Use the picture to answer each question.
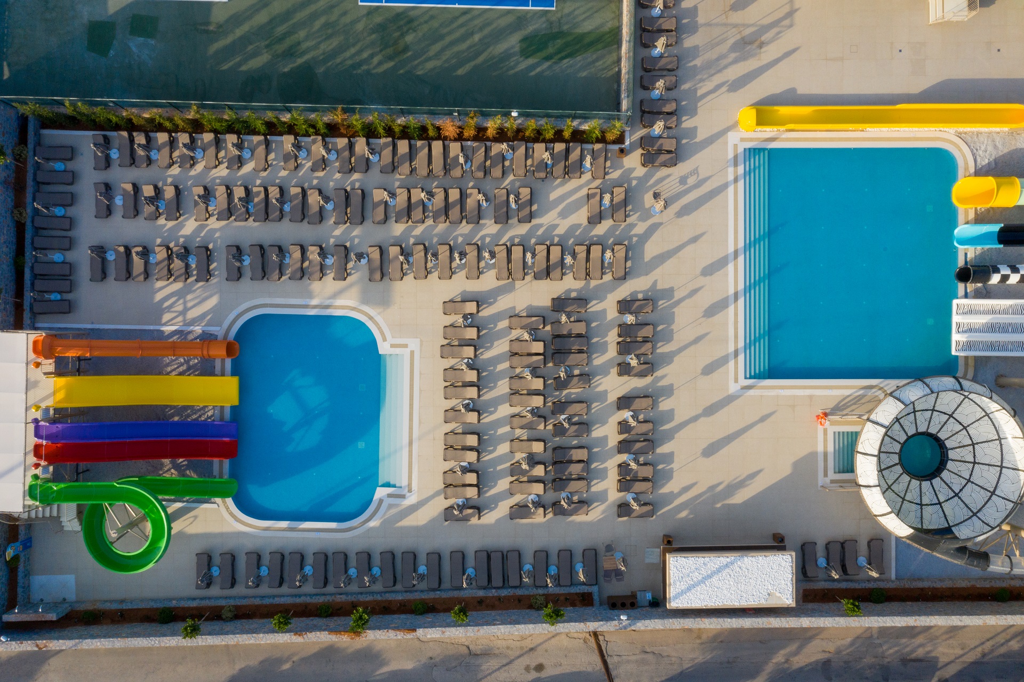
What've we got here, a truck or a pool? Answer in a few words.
pool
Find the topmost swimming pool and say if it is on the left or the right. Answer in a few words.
right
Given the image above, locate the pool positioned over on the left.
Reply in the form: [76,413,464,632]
[213,299,419,537]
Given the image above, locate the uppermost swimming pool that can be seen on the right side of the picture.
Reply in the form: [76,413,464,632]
[729,133,974,394]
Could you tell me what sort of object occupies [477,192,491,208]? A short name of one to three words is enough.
umbrella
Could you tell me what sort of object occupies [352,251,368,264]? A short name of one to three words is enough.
umbrella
